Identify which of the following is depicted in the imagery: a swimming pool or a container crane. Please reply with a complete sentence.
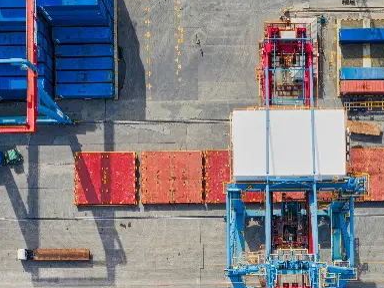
This aerial view contains a container crane.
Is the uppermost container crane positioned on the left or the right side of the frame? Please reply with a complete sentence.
It is on the left.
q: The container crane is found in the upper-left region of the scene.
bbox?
[0,0,70,137]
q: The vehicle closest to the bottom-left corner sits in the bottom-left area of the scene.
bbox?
[16,247,91,261]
